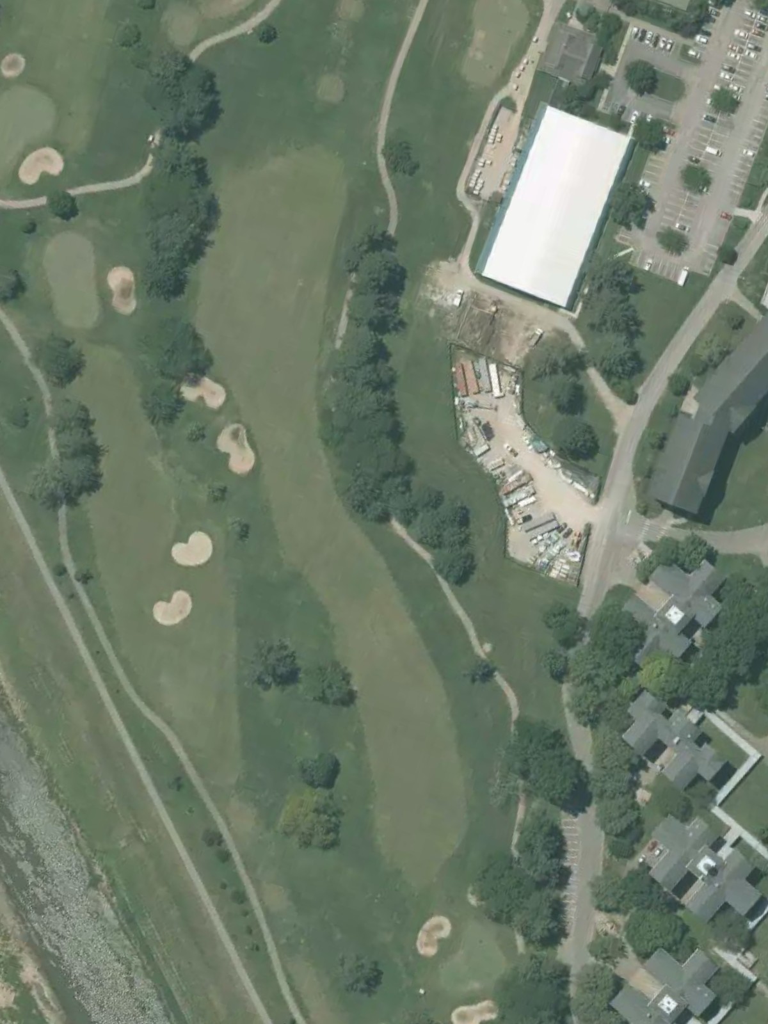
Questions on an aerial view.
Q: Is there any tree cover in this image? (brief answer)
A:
Yes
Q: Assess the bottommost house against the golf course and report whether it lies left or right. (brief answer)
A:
on its right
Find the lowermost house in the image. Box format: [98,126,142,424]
[609,945,719,1024]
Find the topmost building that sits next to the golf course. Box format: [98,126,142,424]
[536,23,606,82]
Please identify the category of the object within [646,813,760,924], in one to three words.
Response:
house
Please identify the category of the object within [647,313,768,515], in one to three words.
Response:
building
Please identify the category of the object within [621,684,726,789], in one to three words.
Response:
house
